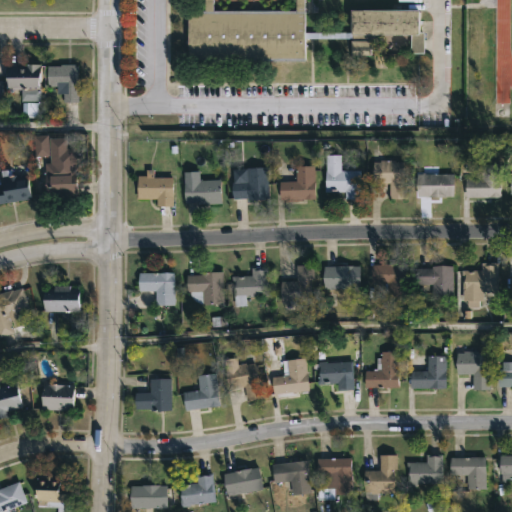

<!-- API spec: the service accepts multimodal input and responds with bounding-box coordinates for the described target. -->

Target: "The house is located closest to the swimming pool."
[38,382,76,411]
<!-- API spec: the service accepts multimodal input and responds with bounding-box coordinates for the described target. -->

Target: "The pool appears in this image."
[38,356,55,380]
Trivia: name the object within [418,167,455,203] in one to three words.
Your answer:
house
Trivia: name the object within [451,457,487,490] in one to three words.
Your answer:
house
